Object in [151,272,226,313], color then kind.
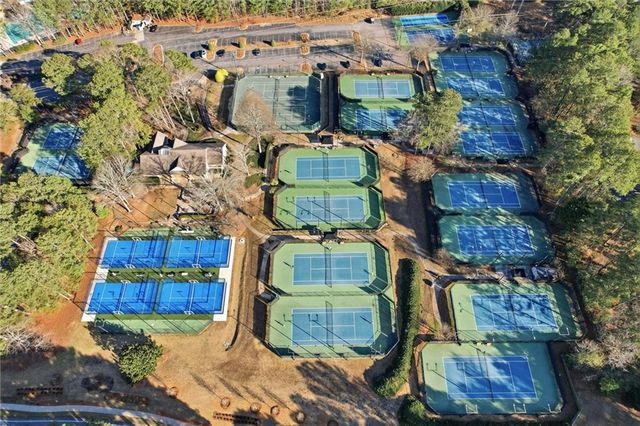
blue sports court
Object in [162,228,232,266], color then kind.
blue sports court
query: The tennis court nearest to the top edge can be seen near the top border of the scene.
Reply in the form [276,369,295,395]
[391,11,461,29]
